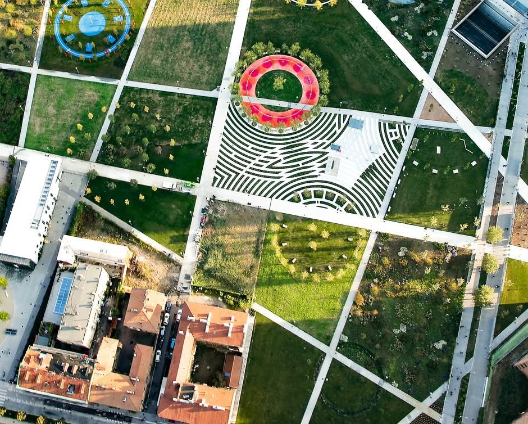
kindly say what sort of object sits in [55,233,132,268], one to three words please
building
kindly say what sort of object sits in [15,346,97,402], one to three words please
house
